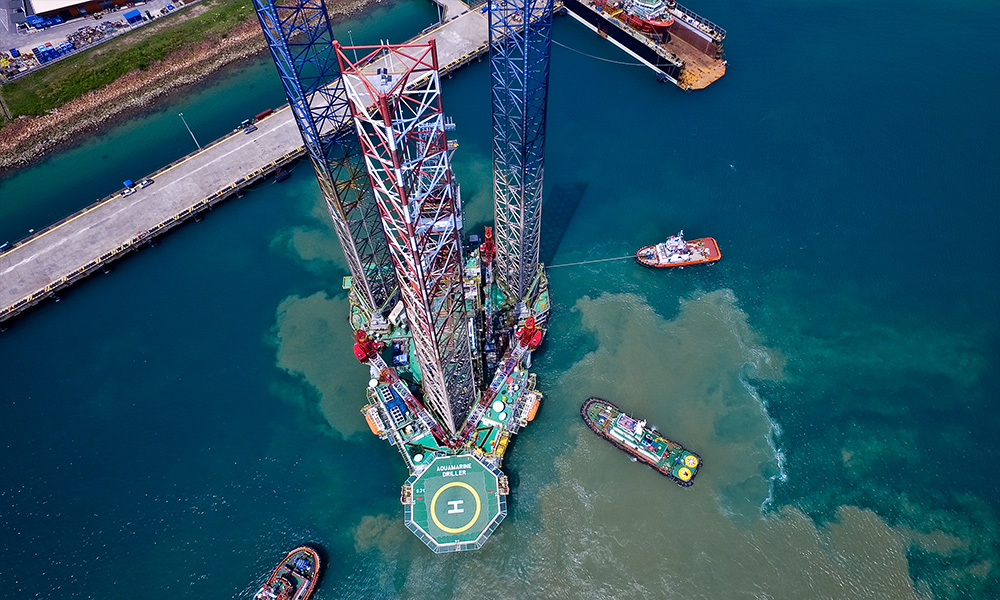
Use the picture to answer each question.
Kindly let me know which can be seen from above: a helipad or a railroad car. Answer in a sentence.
The image shows a helipad.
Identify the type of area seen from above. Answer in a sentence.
The picture captures a port.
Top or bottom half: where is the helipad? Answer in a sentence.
It is in the bottom half that the helipad appears.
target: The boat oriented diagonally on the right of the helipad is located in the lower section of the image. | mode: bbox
[580,395,705,487]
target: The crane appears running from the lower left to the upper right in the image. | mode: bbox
[460,307,546,445]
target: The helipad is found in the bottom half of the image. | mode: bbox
[401,448,509,553]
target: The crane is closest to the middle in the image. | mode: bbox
[476,236,500,360]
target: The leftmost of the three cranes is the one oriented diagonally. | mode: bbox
[348,320,448,444]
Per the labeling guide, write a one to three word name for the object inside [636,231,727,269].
boat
